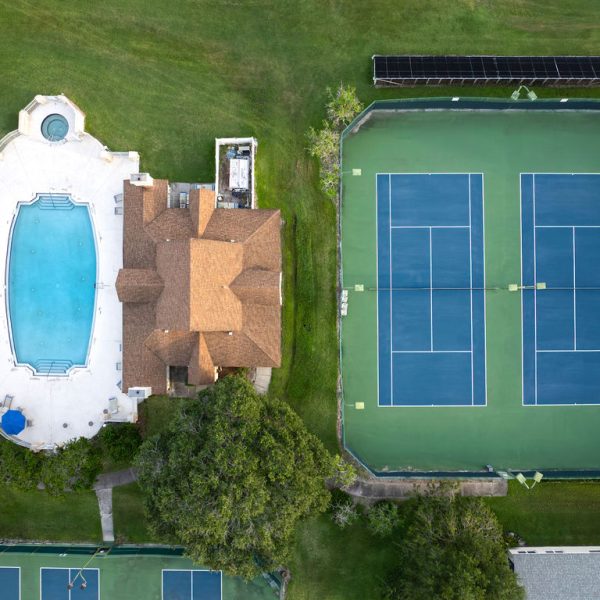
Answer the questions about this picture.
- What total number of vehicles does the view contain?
0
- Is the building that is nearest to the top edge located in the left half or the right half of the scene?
left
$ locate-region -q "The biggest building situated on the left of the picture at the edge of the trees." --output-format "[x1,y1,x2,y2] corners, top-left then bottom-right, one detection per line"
[115,171,282,401]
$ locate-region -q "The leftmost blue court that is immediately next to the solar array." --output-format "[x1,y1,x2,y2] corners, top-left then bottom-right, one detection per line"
[377,173,486,407]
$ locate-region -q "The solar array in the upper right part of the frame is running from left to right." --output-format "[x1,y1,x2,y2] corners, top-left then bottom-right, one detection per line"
[371,54,600,87]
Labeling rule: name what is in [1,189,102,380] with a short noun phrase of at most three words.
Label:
swimming pool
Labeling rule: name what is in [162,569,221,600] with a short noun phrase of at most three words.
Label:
sports court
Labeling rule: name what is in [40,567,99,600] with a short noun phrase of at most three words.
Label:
sports court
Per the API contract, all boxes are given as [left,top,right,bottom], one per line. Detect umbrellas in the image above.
[1,408,28,434]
